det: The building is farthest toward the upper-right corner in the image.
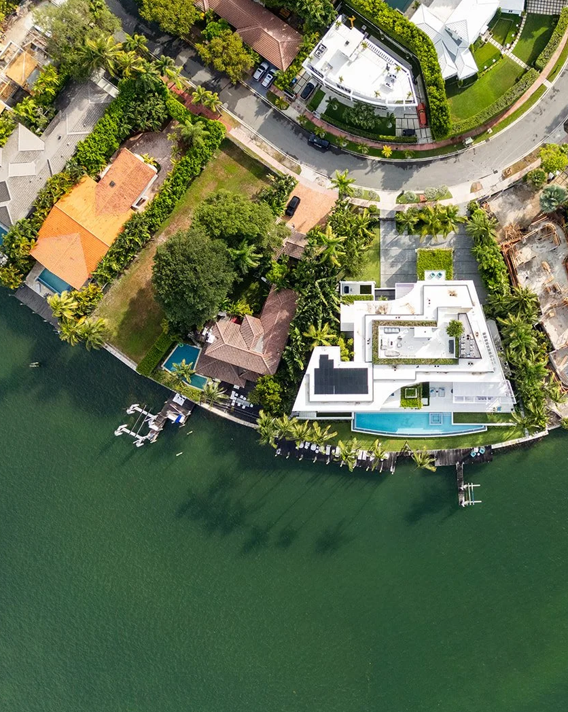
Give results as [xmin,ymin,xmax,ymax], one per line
[409,0,524,83]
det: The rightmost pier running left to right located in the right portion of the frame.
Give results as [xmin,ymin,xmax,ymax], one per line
[435,446,493,466]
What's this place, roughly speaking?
residential area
